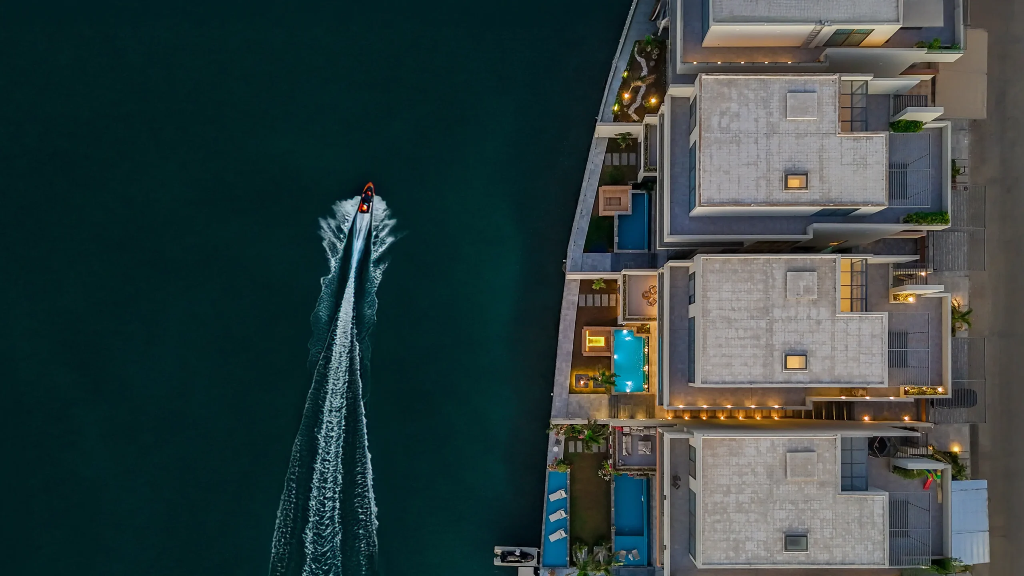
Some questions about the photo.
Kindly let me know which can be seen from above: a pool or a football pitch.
pool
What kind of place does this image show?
residential area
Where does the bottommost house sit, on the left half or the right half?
right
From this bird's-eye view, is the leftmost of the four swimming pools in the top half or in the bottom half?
bottom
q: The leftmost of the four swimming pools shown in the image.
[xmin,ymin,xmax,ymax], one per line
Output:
[540,469,570,569]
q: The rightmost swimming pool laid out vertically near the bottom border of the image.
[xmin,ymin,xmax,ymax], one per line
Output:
[612,471,650,568]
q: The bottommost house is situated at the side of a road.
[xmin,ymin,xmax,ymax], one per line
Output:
[610,420,951,576]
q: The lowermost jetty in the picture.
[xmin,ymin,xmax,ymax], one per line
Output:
[494,545,542,566]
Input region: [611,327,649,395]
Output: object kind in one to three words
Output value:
swimming pool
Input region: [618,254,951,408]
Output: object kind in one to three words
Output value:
house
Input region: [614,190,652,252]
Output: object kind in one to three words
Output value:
swimming pool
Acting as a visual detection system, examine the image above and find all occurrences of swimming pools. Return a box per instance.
[614,190,652,252]
[540,469,570,569]
[611,327,649,395]
[612,471,650,568]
